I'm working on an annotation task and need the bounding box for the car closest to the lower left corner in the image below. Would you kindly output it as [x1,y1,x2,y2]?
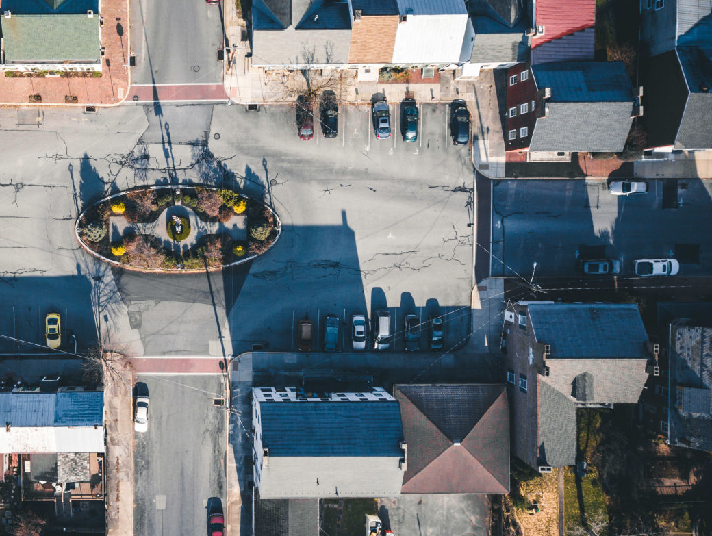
[131,394,151,431]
